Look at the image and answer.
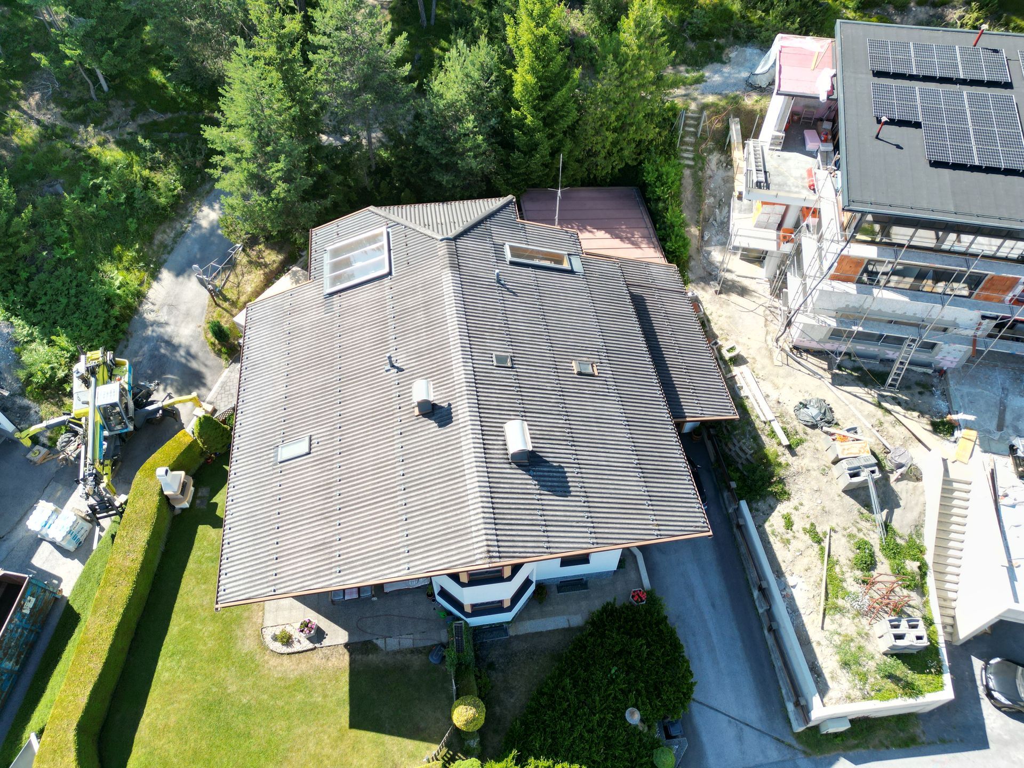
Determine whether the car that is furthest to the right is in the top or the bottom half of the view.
bottom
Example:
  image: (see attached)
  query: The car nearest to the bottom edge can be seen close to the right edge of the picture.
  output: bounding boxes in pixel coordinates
[980,659,1024,716]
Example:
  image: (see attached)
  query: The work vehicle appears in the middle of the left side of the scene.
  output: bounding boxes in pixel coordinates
[16,350,209,549]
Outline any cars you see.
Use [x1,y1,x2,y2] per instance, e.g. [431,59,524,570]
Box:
[677,425,713,510]
[980,659,1024,716]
